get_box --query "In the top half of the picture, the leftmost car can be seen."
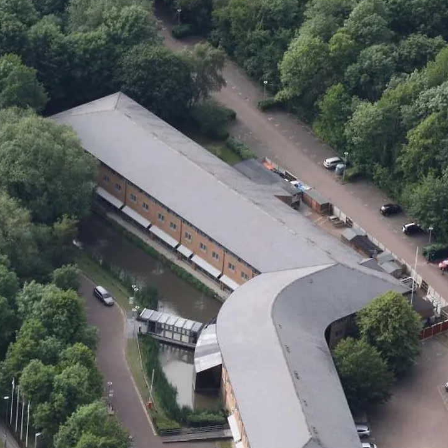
[319,155,347,169]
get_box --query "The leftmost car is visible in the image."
[94,284,111,305]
